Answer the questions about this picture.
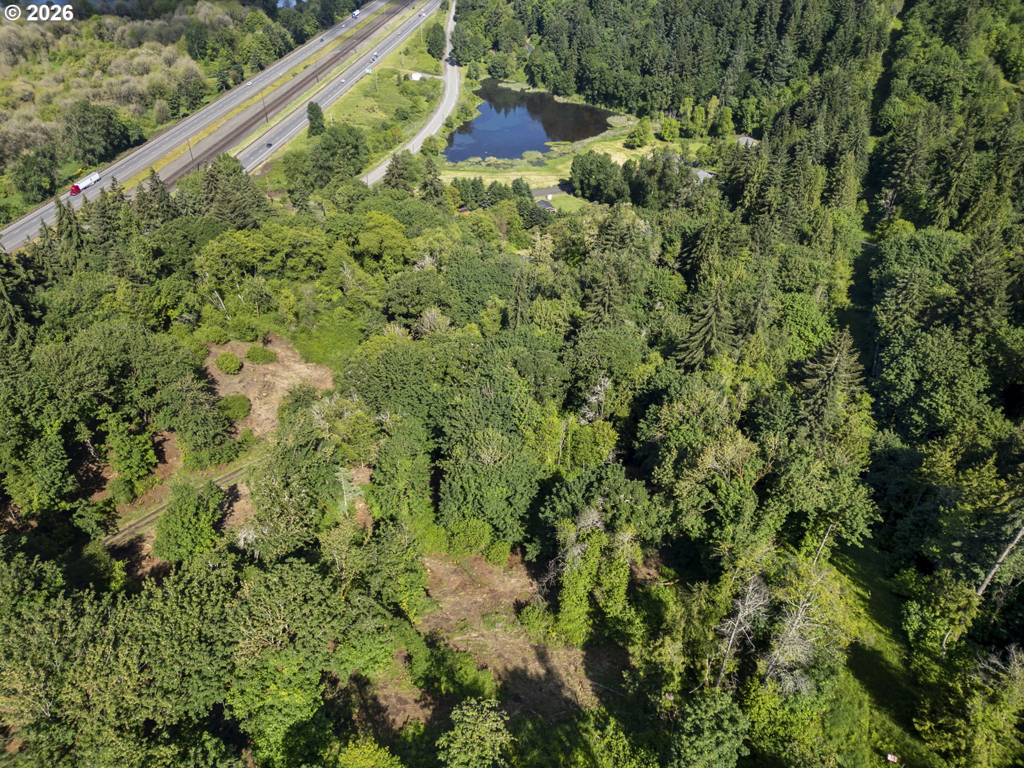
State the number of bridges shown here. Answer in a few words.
zero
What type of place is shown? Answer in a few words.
forest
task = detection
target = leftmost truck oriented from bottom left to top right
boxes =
[66,166,104,195]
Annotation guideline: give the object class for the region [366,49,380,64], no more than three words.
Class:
vehicle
